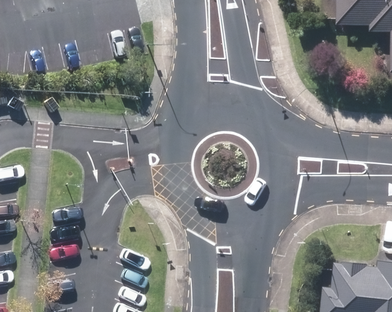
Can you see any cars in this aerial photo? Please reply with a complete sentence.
Yes, this view includes a car.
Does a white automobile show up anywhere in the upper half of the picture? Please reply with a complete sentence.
Yes, looking in the upper half of the picture, one can make out a white automobile.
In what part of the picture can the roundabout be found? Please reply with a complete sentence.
The roundabout is in the center part of the image.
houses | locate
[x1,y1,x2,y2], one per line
[336,0,392,72]
[320,261,392,312]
